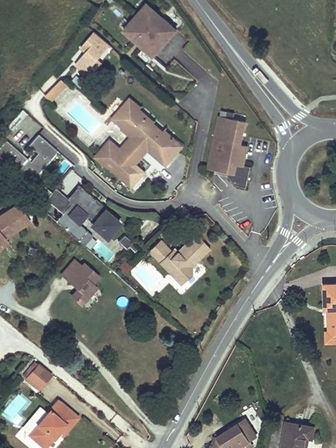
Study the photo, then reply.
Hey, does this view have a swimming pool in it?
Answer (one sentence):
Yes, the picture does show a swimming pool.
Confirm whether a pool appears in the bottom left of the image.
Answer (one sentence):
Yes, you'll find a pool in the bottom left of the image.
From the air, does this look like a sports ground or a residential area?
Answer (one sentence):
This looks like a residential area.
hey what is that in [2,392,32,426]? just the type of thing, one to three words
swimming pool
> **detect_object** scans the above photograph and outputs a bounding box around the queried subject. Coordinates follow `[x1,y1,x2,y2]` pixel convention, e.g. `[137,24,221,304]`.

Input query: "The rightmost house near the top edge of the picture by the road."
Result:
[122,3,178,58]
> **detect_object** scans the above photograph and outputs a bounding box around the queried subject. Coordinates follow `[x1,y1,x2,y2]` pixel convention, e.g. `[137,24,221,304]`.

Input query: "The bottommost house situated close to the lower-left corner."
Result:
[30,399,80,448]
